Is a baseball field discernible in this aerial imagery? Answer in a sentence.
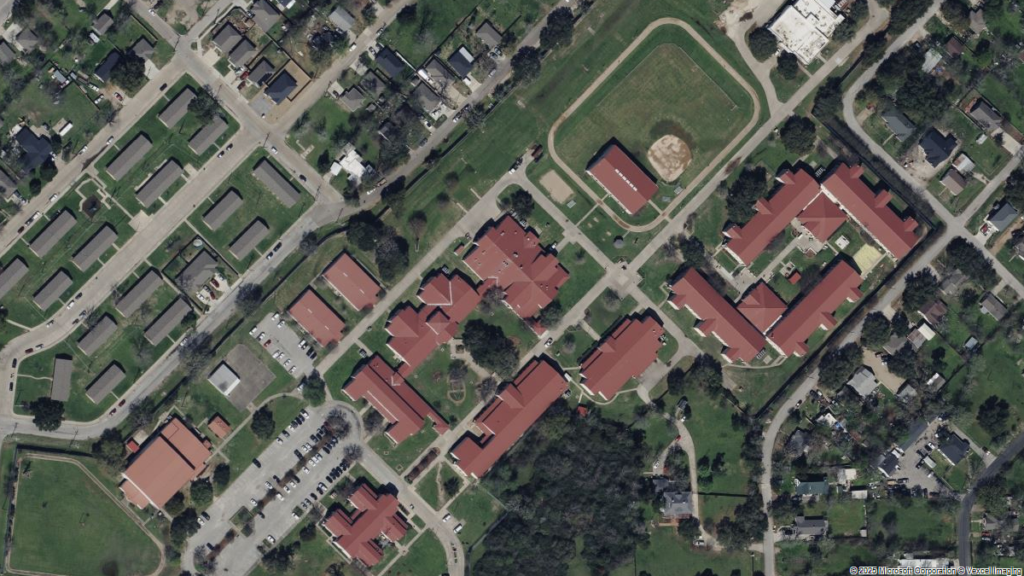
Yes, there is a baseball field in the image.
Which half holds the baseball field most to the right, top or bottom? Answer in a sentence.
The baseball field most to the right is in the top half of the image.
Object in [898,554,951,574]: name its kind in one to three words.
barn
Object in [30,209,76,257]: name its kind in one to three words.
building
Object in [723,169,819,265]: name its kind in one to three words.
building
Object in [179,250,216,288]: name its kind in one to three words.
house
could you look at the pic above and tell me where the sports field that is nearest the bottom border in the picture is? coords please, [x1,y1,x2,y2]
[11,457,161,576]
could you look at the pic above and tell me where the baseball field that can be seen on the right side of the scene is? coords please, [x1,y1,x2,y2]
[596,44,738,188]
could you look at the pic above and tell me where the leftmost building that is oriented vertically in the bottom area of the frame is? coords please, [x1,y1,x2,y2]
[50,357,71,401]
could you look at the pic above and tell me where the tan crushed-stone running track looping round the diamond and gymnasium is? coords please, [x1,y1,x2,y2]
[546,17,761,232]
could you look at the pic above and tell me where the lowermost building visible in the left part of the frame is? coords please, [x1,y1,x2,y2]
[324,484,407,567]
